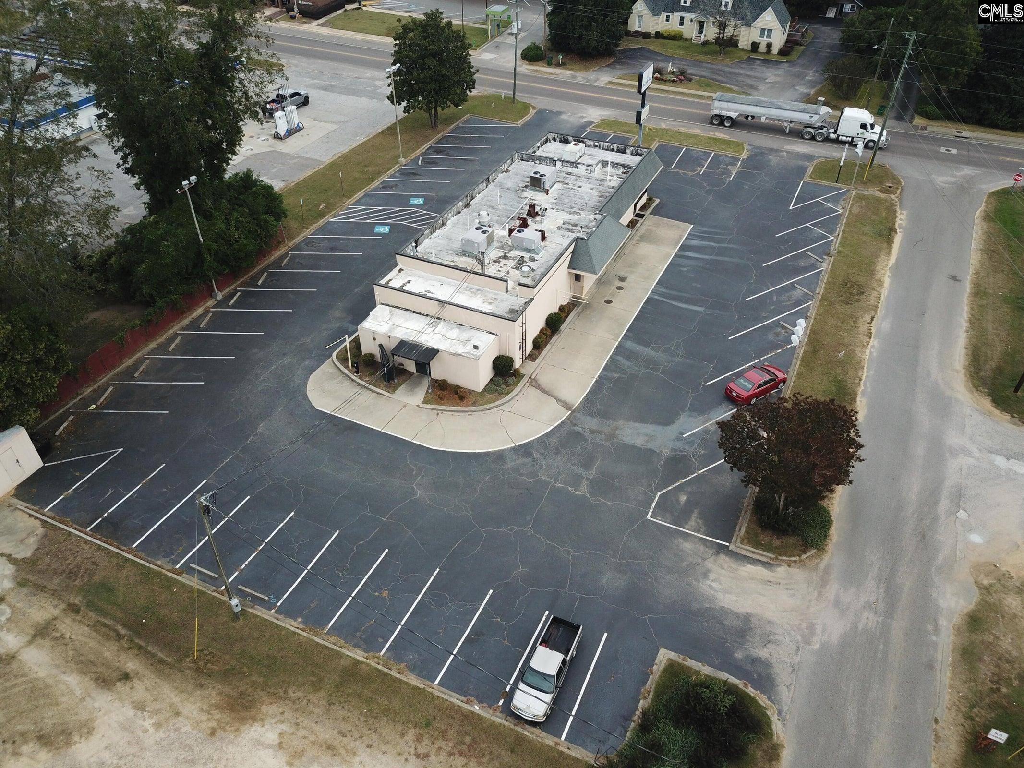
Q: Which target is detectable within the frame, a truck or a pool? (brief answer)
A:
truck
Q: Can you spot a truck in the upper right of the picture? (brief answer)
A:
Yes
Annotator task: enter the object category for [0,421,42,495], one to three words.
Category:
shed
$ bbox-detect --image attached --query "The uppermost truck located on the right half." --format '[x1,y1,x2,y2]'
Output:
[713,90,892,150]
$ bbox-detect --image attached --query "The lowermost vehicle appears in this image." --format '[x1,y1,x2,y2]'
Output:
[510,608,590,720]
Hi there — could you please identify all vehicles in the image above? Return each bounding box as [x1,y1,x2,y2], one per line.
[725,364,792,405]
[256,86,312,112]
[510,608,590,720]
[713,90,892,150]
